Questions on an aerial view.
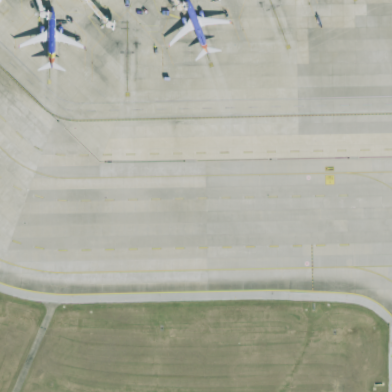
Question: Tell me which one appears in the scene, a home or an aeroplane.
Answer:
aeroplane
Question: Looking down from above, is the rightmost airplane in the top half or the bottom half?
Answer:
top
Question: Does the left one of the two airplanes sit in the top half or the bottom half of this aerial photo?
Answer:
top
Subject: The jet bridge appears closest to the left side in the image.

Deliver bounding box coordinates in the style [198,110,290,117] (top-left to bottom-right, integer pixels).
[34,0,50,18]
